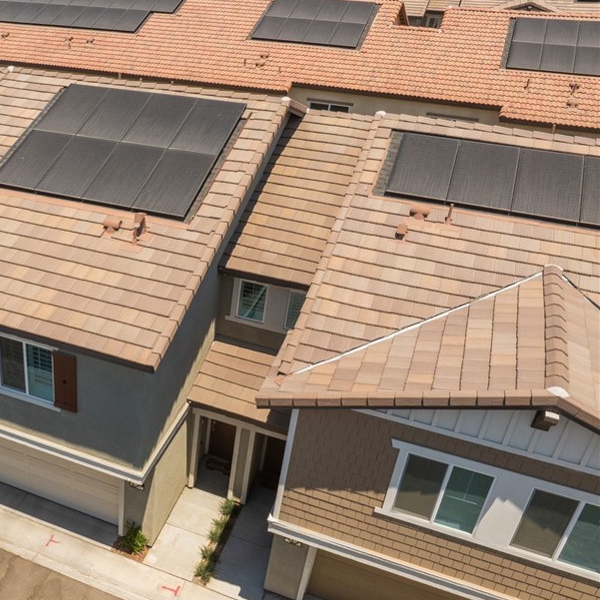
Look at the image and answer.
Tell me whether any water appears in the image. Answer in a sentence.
No, there is no water in the image.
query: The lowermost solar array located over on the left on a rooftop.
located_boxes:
[0,86,244,222]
